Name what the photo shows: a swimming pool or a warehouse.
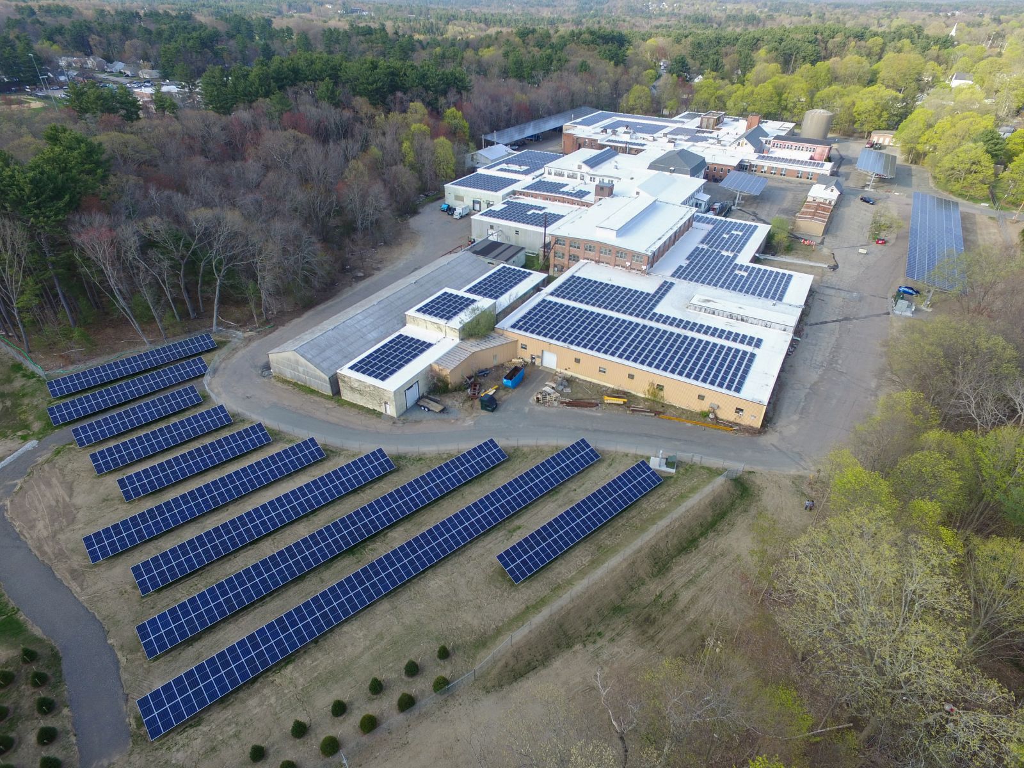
warehouse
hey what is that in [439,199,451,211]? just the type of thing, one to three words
vehicle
